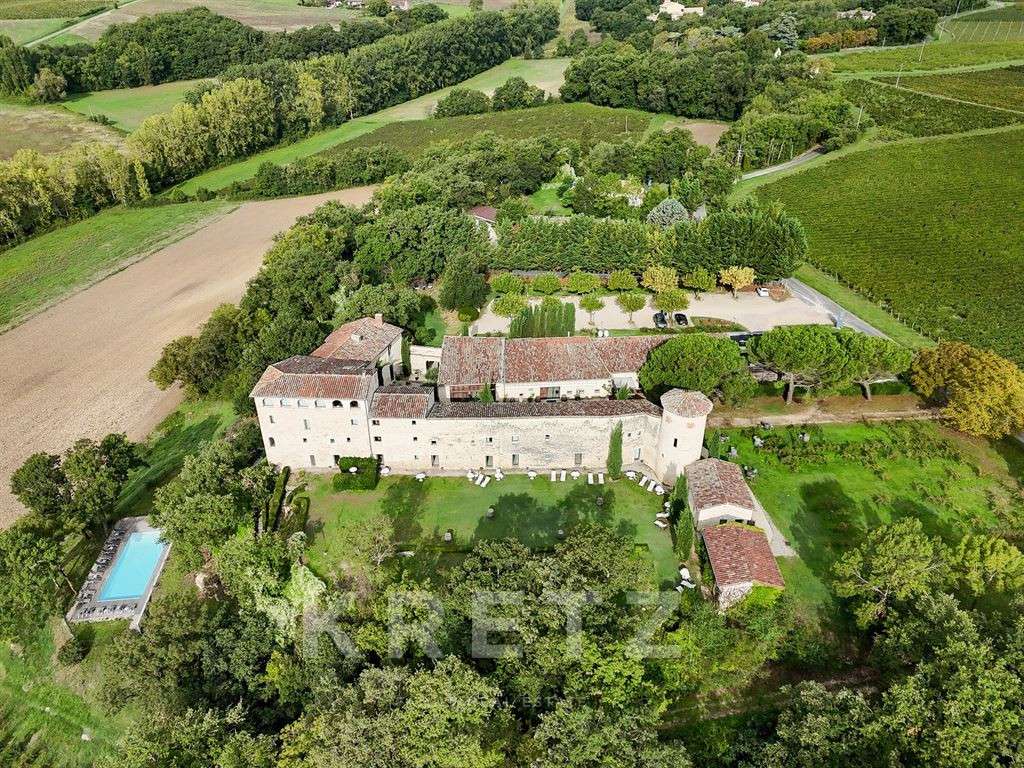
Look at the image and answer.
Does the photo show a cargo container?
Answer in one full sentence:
No, there isn't any cargo container down there.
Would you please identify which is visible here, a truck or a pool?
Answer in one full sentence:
The one in the frame is a pool.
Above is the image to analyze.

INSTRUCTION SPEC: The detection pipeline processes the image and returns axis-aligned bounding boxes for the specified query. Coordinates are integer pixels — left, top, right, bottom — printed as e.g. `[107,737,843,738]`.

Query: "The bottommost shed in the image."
[701,522,784,602]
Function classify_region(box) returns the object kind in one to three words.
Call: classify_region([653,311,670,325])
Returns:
car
